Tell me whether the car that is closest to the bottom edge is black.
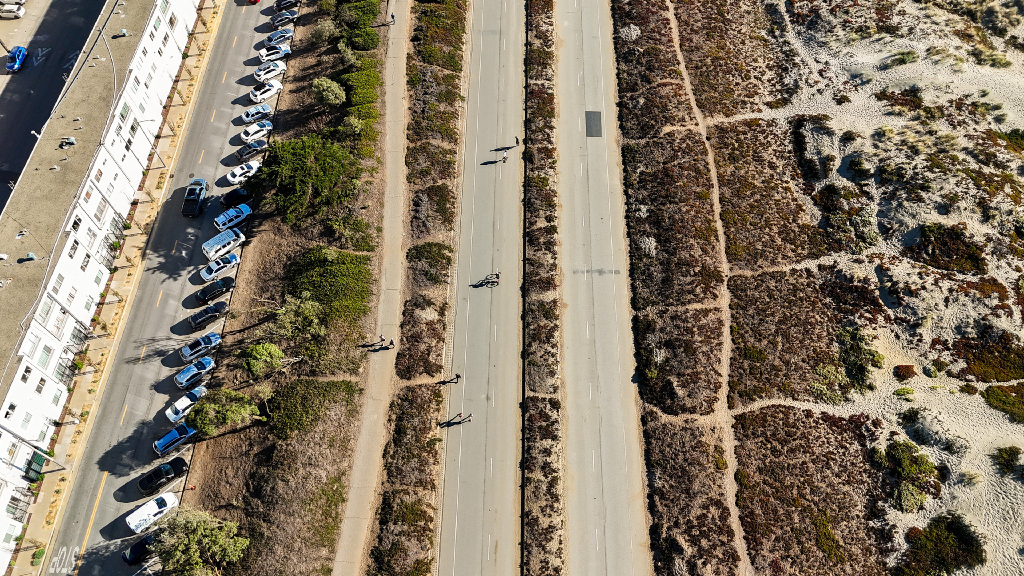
Yes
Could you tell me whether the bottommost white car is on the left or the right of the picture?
left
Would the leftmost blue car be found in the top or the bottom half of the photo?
top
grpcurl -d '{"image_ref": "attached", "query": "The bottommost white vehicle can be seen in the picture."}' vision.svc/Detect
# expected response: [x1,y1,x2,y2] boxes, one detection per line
[121,490,182,535]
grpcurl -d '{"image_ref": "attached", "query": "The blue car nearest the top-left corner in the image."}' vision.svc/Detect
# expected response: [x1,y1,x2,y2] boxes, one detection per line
[5,46,31,72]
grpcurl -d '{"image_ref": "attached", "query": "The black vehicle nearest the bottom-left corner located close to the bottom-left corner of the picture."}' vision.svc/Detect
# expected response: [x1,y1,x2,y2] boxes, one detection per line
[117,528,167,568]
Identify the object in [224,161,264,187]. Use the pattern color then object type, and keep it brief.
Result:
white car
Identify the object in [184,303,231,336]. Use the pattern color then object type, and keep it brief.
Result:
black car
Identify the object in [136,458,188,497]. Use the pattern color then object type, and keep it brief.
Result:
black car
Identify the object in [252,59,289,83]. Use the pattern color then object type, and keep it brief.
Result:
white car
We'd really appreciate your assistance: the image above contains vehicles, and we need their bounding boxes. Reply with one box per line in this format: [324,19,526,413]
[199,253,242,284]
[236,120,275,143]
[162,388,209,423]
[256,43,292,63]
[265,9,300,31]
[5,46,31,72]
[252,59,289,83]
[270,0,304,12]
[248,79,285,103]
[176,332,224,366]
[238,102,277,126]
[184,303,231,336]
[212,204,254,232]
[121,490,182,535]
[217,184,258,210]
[231,137,271,164]
[224,161,264,187]
[150,422,198,459]
[0,3,27,19]
[117,528,167,568]
[192,279,236,310]
[182,178,209,218]
[136,458,188,497]
[262,28,297,47]
[174,359,218,392]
